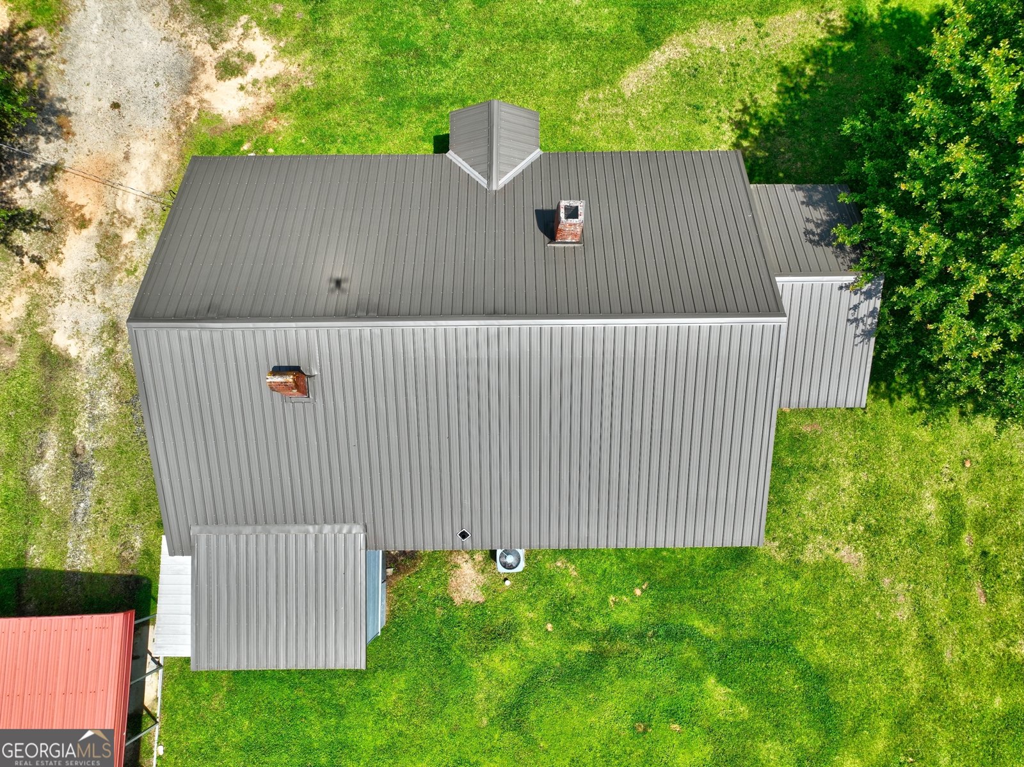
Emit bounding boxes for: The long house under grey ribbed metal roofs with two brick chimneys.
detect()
[126,95,882,671]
